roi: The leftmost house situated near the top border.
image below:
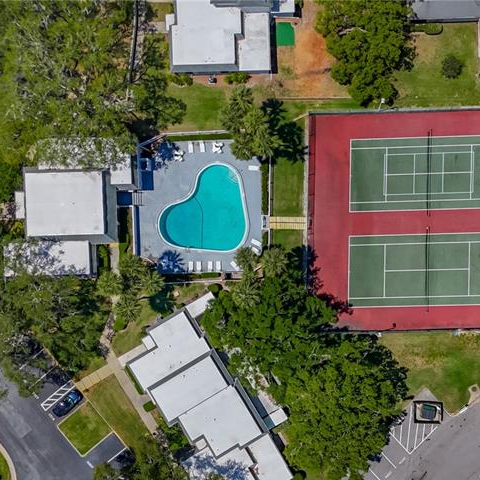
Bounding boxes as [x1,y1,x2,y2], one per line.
[165,0,295,77]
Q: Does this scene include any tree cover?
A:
Yes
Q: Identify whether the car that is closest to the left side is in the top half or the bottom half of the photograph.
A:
bottom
